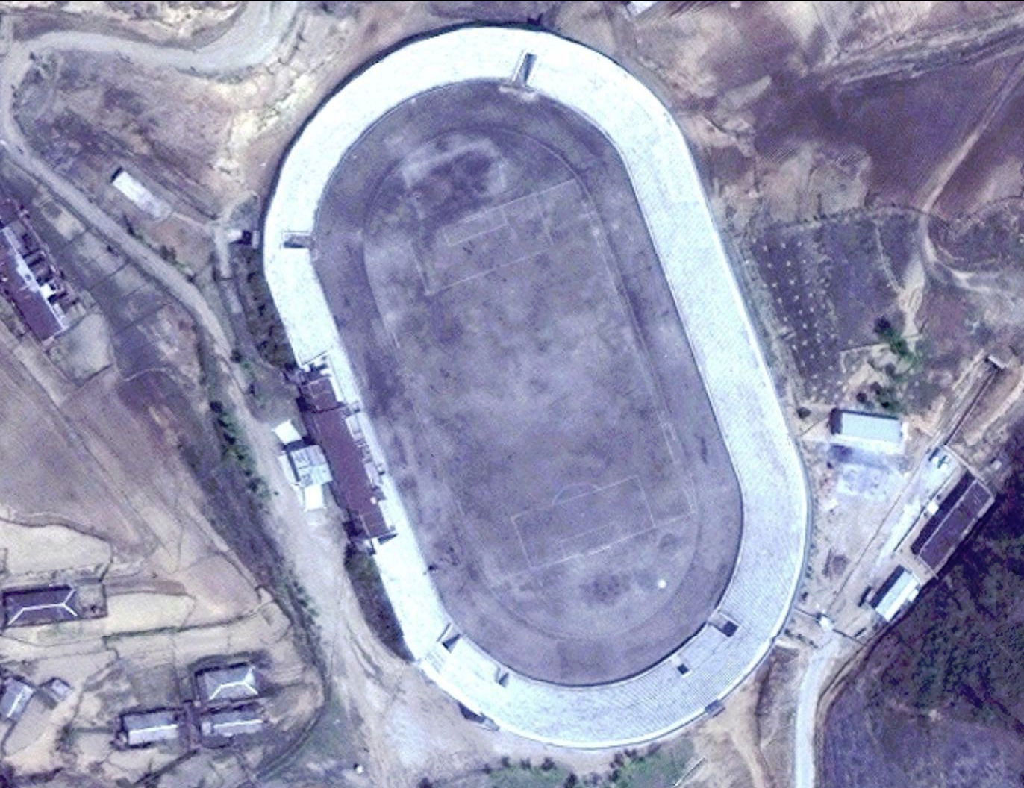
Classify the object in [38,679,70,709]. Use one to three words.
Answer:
shed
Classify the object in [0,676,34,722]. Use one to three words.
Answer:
house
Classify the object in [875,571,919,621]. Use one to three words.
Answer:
building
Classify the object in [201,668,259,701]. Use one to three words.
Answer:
house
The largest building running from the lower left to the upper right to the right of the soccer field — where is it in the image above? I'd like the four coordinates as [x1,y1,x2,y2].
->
[919,480,995,572]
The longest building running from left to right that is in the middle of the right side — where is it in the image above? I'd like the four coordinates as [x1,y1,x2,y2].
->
[831,410,907,455]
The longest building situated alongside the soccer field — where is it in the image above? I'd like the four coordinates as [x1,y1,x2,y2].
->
[302,363,397,551]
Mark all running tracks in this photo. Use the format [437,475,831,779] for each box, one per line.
[310,79,743,687]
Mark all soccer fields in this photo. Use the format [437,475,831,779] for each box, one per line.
[363,128,699,638]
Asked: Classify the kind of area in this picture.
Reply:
sports ground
